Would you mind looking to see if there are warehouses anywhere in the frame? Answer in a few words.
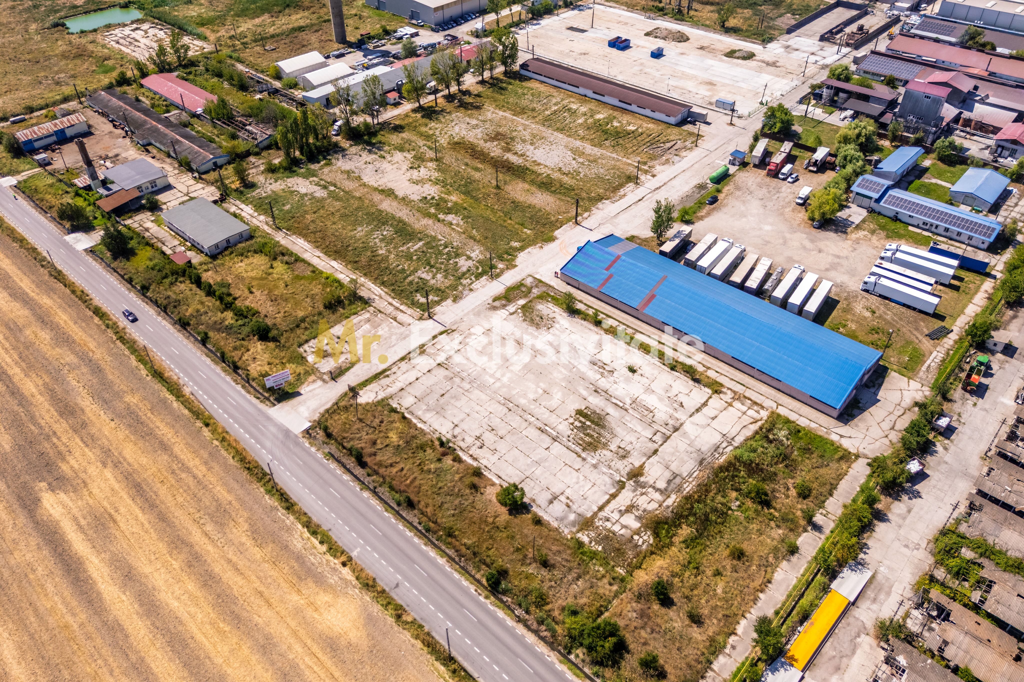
Yes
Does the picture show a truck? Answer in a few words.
Yes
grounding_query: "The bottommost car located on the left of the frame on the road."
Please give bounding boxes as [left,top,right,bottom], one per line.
[122,305,138,320]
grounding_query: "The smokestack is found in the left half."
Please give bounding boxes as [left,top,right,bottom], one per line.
[75,136,103,191]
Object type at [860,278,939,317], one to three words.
truck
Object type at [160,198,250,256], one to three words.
building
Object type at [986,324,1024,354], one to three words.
shed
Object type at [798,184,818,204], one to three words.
vehicle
